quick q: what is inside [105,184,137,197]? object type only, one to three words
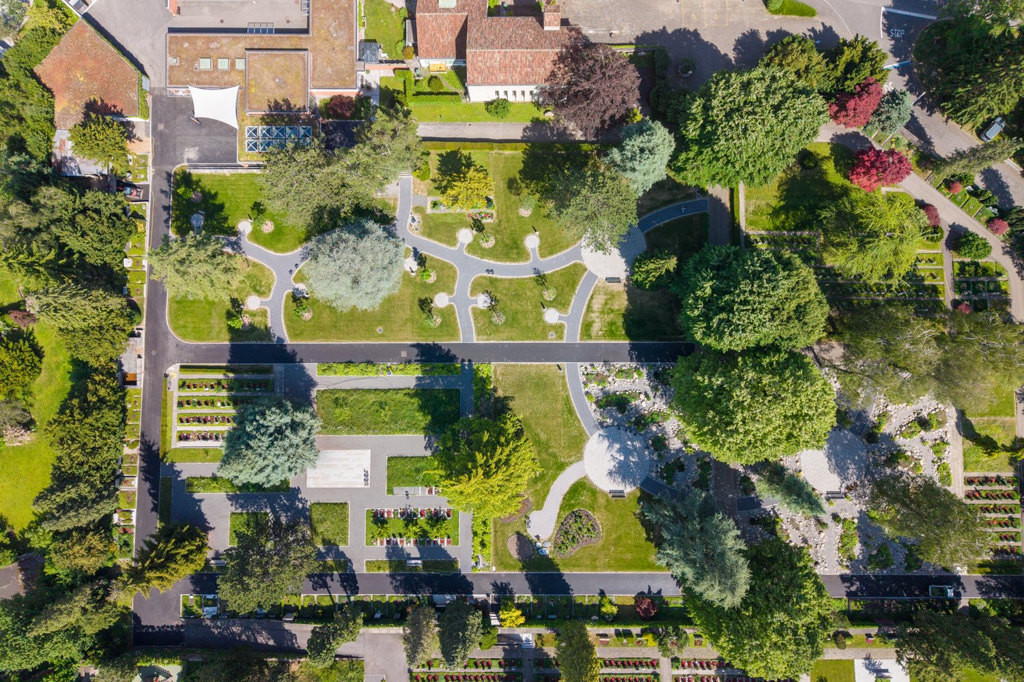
vehicle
